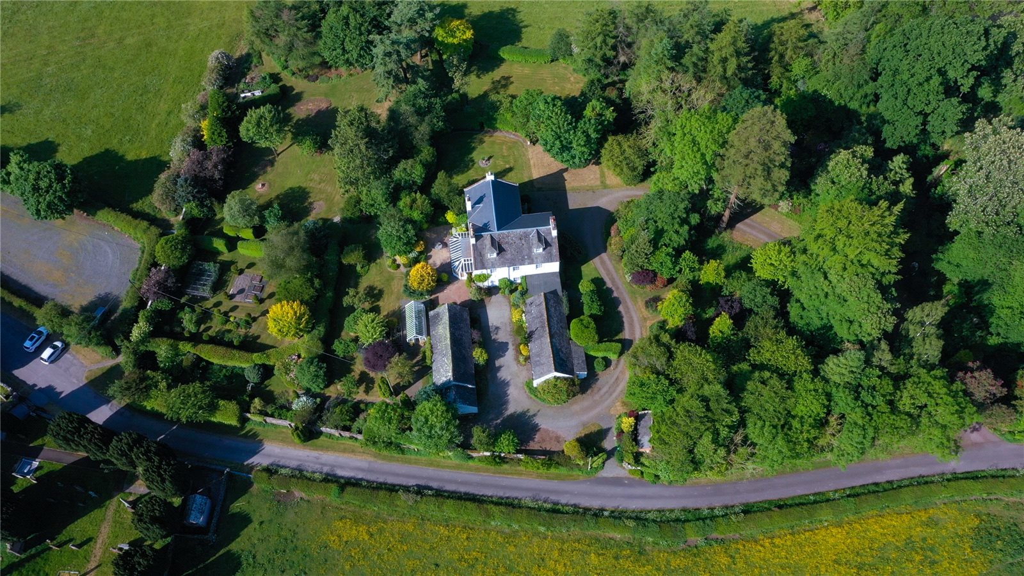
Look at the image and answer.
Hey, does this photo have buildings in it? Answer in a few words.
Yes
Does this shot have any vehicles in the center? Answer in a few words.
No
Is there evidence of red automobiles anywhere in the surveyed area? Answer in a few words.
No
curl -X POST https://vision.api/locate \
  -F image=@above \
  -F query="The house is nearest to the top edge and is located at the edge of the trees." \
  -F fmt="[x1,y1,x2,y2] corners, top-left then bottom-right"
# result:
[449,173,565,303]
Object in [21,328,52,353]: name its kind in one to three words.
car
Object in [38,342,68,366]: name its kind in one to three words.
car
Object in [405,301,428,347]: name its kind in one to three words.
greenhouse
